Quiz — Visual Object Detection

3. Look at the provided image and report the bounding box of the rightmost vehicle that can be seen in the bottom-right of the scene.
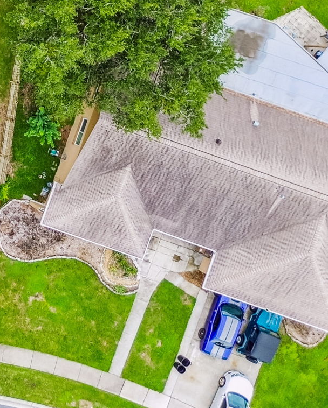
[238,306,288,369]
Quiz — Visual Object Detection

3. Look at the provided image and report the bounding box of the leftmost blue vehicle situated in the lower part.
[202,293,251,364]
